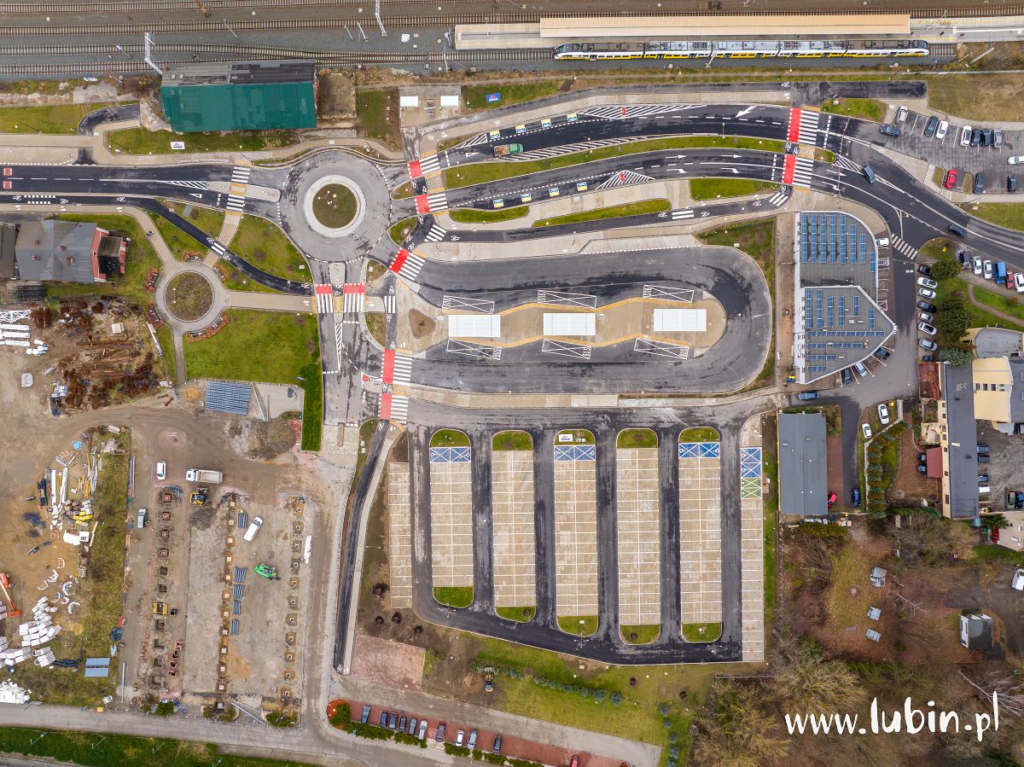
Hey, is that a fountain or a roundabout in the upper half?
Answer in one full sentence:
It is a roundabout that can be seen in the upper half.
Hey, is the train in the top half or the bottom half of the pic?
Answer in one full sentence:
The top half of the photo is where the train is.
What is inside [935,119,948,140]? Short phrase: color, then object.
white vehicle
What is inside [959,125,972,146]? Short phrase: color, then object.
white vehicle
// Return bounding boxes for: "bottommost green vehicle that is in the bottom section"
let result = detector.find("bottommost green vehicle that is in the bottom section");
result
[254,565,282,582]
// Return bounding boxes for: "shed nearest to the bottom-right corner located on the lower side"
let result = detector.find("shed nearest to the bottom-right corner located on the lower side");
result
[960,607,993,648]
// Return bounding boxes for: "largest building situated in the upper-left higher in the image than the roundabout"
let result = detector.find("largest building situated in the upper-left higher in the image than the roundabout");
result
[161,60,321,134]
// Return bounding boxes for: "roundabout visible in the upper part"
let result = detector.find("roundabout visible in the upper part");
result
[278,149,391,262]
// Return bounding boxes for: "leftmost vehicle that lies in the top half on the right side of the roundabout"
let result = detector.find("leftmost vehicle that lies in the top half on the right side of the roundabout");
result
[492,140,524,157]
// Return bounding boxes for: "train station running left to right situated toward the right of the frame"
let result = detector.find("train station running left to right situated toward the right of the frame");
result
[455,14,1024,51]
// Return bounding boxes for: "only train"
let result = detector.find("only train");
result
[554,38,935,61]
